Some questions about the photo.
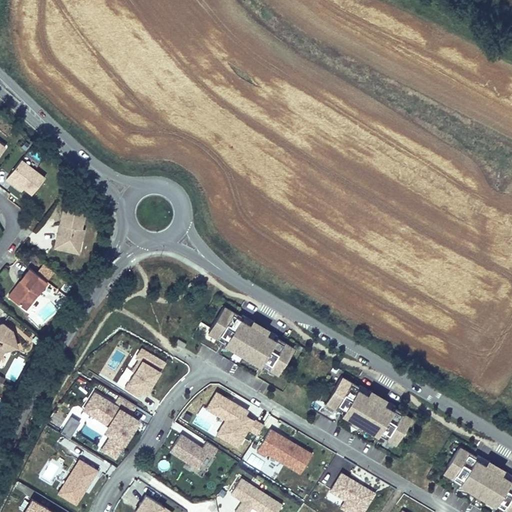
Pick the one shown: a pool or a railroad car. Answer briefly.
pool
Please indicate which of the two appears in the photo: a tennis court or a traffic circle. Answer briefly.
traffic circle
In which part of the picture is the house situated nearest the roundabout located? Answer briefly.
left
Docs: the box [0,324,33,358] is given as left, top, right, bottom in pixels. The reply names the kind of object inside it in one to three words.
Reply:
house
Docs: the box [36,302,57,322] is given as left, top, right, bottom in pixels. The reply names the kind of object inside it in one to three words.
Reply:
swimming pool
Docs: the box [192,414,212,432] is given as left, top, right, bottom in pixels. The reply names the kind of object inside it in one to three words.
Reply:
swimming pool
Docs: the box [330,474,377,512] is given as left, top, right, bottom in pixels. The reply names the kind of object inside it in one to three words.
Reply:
house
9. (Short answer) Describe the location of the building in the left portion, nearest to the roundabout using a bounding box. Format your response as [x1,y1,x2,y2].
[54,210,86,254]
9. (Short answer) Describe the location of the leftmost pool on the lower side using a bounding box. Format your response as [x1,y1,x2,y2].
[6,356,26,381]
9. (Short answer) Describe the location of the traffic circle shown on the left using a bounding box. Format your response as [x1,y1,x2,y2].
[118,176,192,250]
